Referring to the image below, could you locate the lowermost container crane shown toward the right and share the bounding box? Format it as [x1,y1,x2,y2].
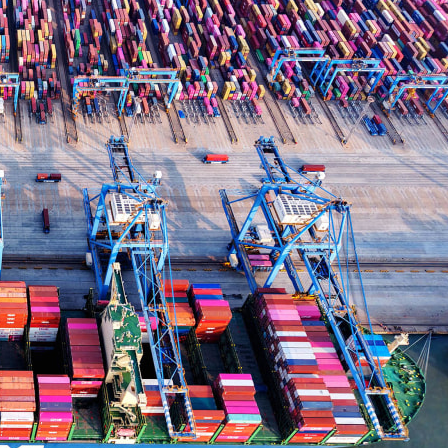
[215,136,405,446]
